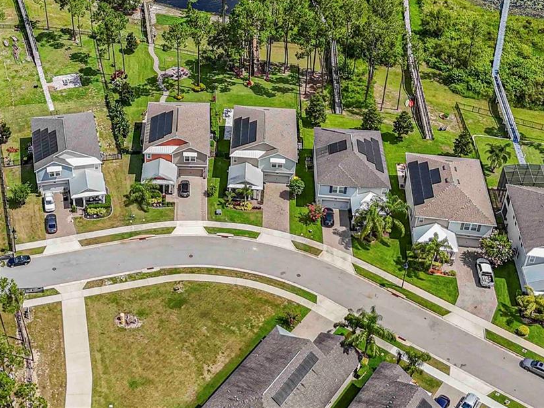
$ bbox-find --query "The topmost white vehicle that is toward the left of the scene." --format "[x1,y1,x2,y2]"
[42,193,55,211]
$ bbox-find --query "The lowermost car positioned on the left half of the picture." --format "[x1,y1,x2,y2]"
[3,253,33,269]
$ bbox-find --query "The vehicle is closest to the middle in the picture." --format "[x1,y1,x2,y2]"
[322,207,335,228]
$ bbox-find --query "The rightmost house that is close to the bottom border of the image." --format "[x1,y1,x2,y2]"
[347,366,432,408]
